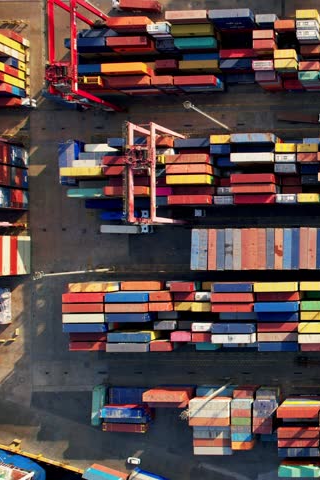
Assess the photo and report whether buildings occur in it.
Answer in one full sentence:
No, there is no building in the image.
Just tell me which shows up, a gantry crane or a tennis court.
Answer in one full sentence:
Looking from above, you can make out a gantry crane.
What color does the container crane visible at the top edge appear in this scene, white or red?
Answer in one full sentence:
From above, the container crane visible at the top edge appears red.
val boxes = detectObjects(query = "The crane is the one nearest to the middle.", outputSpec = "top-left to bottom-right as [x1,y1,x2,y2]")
[121,115,195,226]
